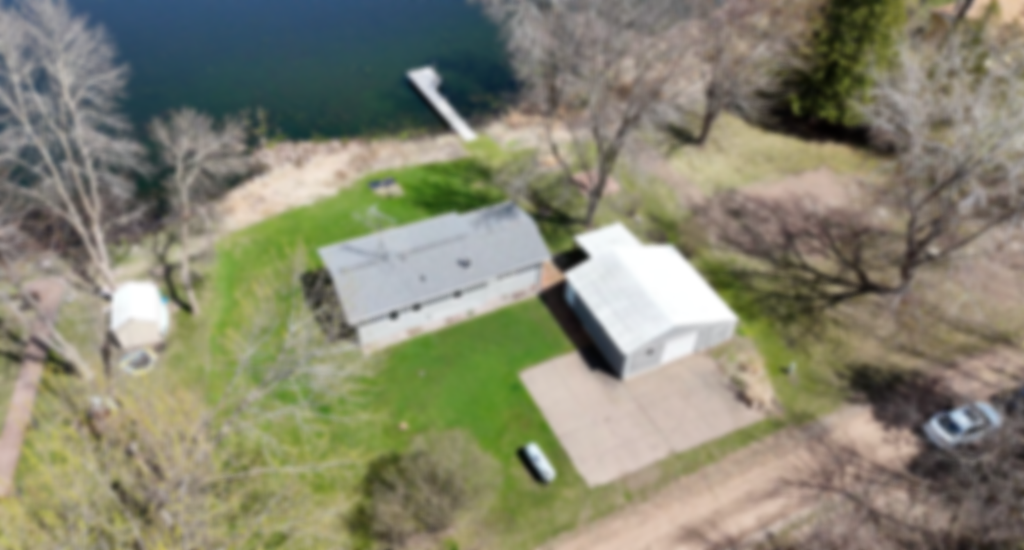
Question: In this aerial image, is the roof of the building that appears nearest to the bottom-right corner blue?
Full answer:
No, the roof of the building that appears nearest to the bottom-right corner is white.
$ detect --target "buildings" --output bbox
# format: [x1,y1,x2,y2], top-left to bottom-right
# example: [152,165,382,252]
[110,281,167,349]
[563,222,741,380]
[315,197,556,353]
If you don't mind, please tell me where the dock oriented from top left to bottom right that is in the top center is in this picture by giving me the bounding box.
[412,66,476,142]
